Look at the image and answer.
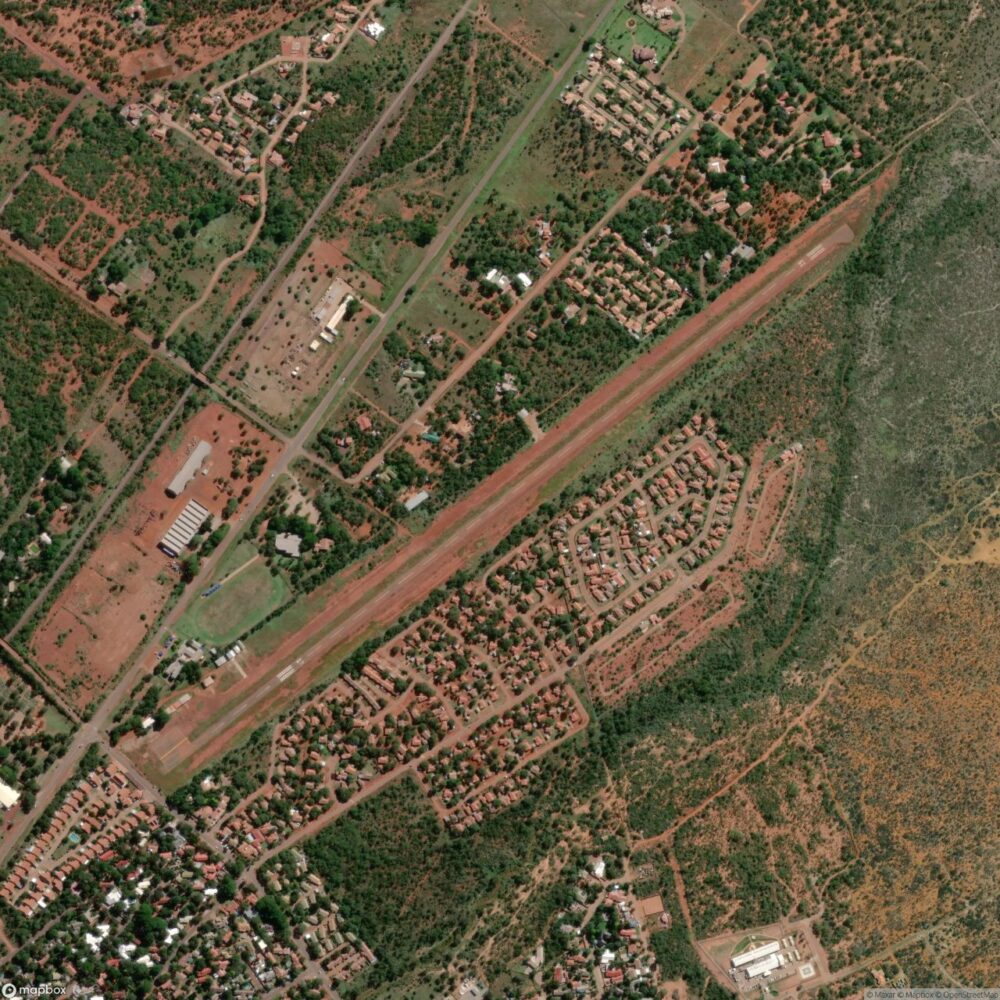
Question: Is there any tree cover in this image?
Yes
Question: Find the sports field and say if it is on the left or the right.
left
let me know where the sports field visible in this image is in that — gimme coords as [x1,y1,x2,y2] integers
[188,558,284,648]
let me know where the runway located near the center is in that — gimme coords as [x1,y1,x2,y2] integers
[148,212,854,772]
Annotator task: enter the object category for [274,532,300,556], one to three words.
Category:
building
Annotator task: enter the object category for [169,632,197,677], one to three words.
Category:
building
